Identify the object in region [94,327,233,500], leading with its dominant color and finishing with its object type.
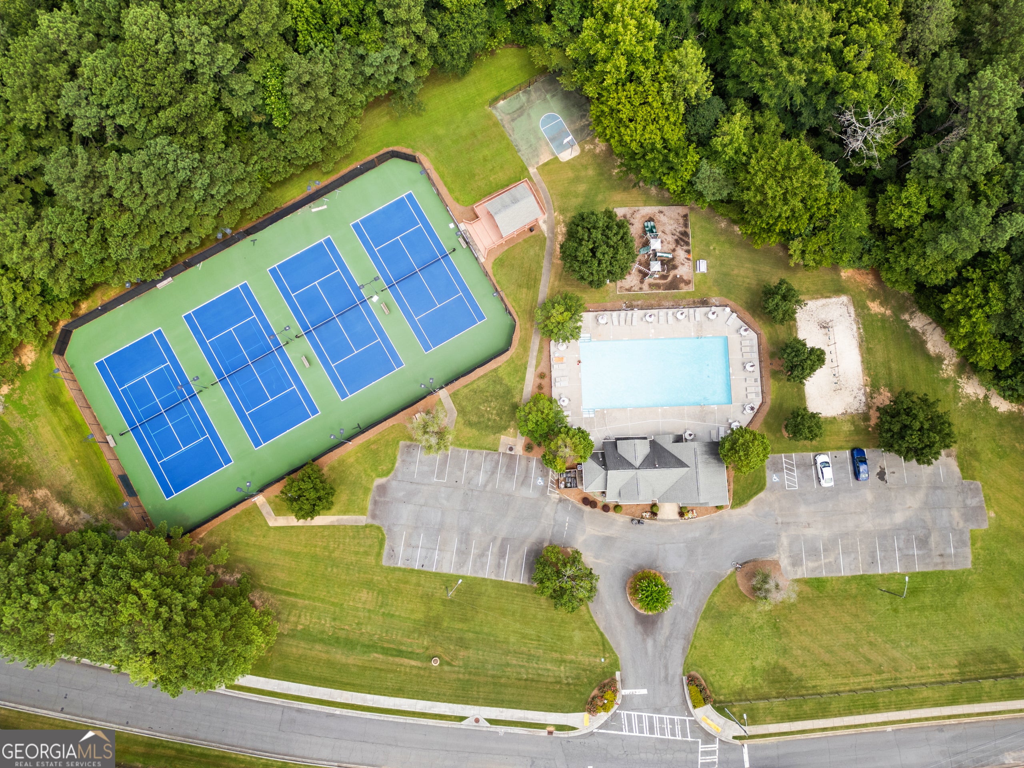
blue tennis court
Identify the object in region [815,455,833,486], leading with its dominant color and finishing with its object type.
white car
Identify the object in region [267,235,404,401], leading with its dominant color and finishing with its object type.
blue tennis court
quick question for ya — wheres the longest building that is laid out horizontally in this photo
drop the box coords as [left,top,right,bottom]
[582,433,729,506]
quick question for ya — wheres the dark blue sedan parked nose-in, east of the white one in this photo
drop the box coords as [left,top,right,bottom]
[851,449,869,480]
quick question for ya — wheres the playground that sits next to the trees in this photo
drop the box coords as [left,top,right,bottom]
[613,205,695,294]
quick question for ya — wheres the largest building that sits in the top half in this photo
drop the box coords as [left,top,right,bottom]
[464,178,546,258]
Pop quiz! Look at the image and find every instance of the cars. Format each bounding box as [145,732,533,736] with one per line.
[851,449,869,480]
[815,455,833,486]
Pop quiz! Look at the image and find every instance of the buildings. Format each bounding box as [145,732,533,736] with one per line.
[582,433,729,506]
[464,178,546,258]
